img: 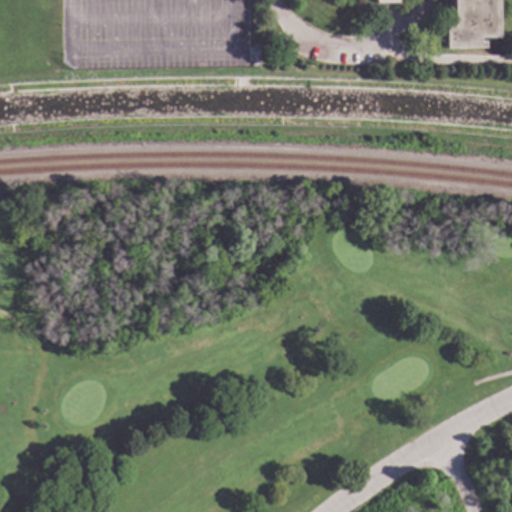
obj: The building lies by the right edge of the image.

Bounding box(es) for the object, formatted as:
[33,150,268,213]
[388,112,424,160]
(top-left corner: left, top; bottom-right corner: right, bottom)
[450,0,505,48]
